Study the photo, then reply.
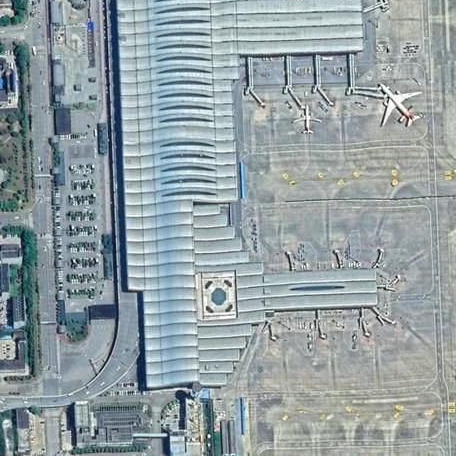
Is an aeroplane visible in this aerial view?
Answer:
Yes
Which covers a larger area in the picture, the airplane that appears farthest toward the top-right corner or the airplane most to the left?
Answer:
the airplane that appears farthest toward the top-right corner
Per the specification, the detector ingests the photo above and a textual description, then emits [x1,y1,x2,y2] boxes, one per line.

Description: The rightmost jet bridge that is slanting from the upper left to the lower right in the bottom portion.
[371,306,397,327]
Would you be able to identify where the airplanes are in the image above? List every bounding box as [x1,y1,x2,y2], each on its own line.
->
[378,84,422,125]
[293,105,322,133]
